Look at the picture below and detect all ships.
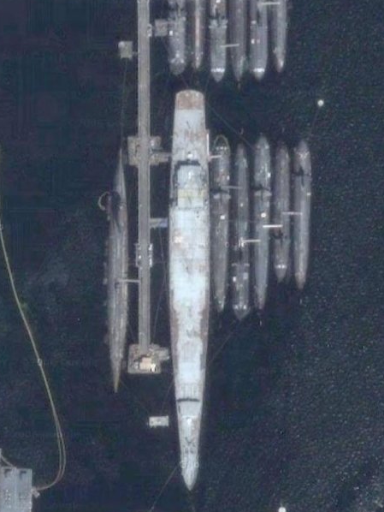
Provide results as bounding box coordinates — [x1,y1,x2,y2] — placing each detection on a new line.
[209,0,227,81]
[170,89,210,491]
[273,144,291,281]
[273,0,288,71]
[250,0,268,79]
[0,469,32,512]
[231,0,246,88]
[107,151,127,390]
[254,136,271,317]
[294,140,311,295]
[233,145,251,320]
[168,0,186,73]
[212,138,230,318]
[190,0,206,79]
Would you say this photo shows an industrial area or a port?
port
